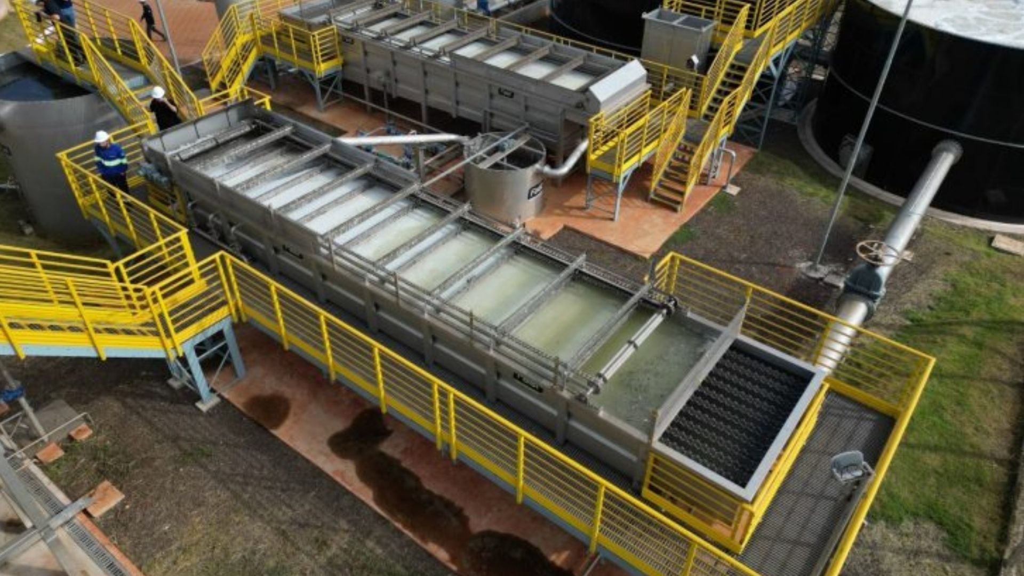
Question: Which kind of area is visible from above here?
industrial area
